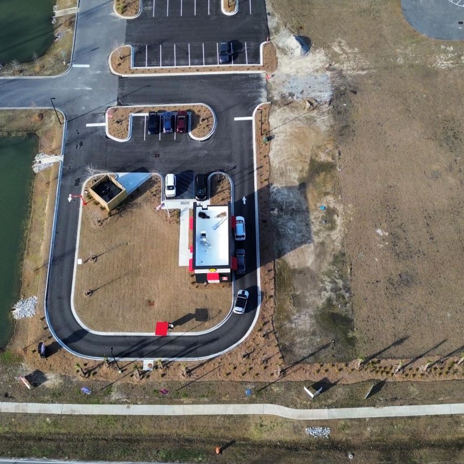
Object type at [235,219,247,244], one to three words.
vehicle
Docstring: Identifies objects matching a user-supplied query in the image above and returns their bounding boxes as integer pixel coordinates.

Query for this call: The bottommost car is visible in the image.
[234,289,250,318]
